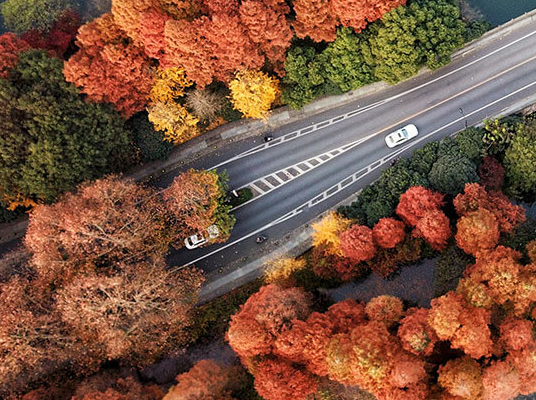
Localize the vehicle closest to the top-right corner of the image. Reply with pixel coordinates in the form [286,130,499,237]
[384,124,418,146]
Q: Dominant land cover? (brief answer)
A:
trees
